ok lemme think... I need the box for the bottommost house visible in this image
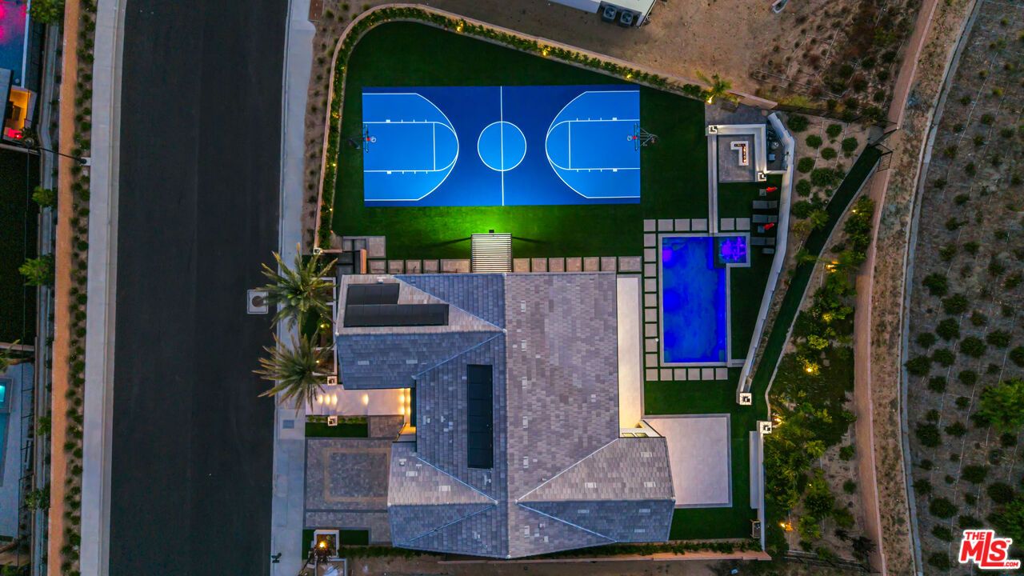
[335,271,677,560]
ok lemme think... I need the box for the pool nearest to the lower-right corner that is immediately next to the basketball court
[658,233,751,367]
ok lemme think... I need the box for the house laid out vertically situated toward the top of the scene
[0,69,36,146]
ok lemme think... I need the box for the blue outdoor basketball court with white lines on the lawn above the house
[362,85,640,207]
